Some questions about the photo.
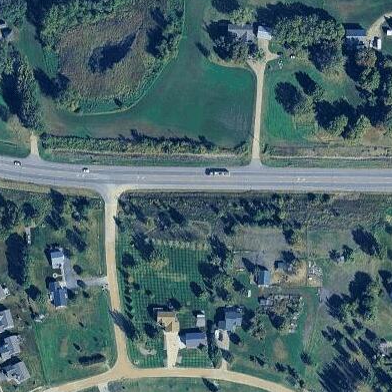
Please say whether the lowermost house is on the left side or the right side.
left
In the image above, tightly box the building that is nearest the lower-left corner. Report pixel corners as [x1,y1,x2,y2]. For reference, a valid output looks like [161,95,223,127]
[2,359,29,387]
